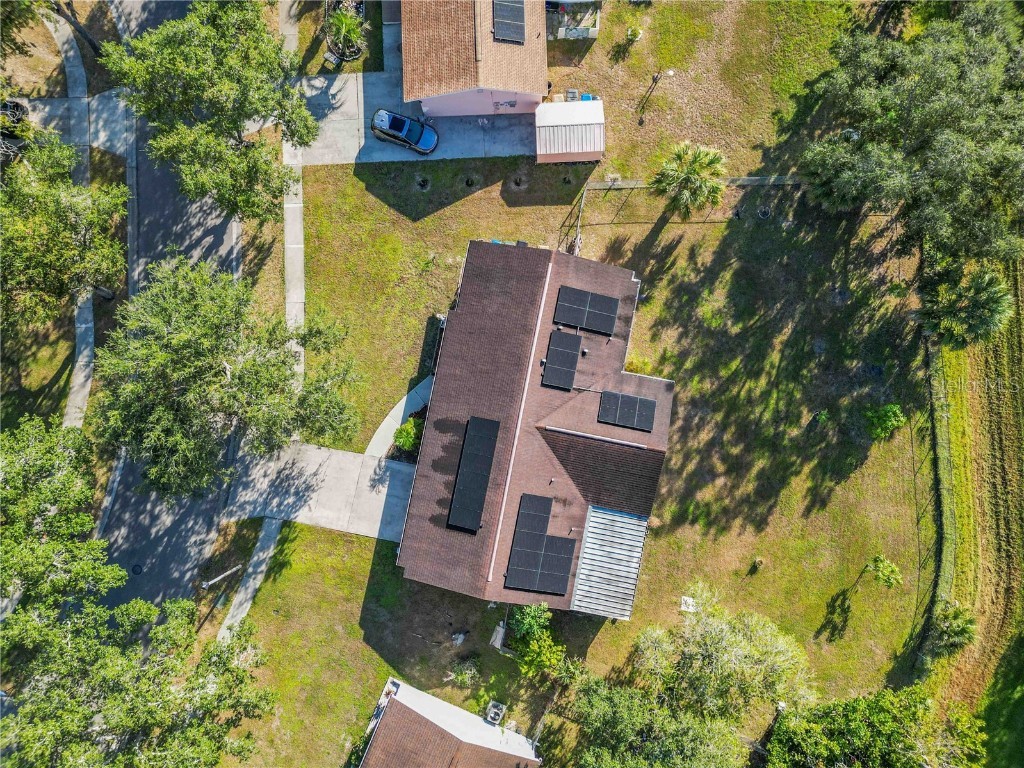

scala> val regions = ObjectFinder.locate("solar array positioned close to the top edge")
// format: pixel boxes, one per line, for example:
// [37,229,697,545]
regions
[493,0,524,44]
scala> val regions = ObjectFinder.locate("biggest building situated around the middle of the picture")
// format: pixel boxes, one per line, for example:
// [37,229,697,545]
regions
[395,241,676,620]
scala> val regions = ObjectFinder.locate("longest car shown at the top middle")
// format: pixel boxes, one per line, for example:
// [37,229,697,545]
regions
[371,106,440,158]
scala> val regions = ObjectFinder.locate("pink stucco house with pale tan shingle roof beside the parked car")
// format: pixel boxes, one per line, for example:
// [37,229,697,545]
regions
[402,0,548,116]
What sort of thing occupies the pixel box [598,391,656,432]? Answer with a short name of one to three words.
solar array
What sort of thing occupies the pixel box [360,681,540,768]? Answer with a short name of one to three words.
house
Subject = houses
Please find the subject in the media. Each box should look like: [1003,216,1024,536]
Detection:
[395,241,676,620]
[402,0,548,116]
[360,681,540,768]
